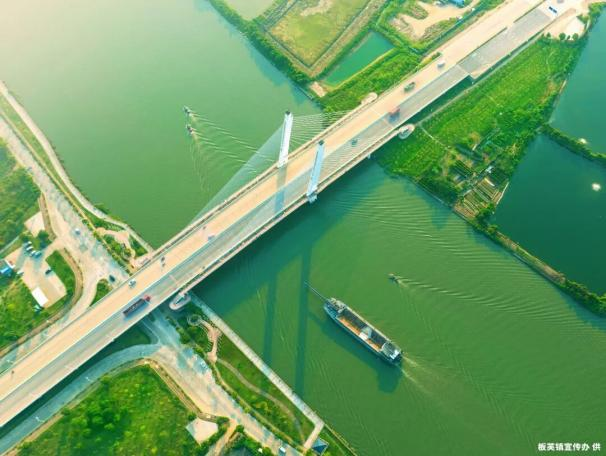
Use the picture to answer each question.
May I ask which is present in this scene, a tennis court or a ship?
ship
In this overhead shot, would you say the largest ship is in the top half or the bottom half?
bottom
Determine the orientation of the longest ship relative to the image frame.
at an angle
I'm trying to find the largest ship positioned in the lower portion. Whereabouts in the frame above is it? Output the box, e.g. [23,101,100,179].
[302,278,403,364]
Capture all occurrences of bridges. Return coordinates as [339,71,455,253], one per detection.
[0,57,465,426]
